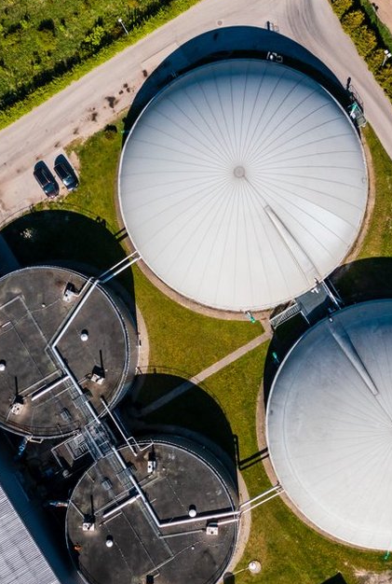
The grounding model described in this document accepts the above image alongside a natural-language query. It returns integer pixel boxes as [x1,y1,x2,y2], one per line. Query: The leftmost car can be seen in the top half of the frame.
[32,164,58,195]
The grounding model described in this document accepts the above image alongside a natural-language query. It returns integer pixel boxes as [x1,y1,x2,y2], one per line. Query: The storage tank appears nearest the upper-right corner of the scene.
[117,59,368,312]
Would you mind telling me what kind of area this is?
industrial area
